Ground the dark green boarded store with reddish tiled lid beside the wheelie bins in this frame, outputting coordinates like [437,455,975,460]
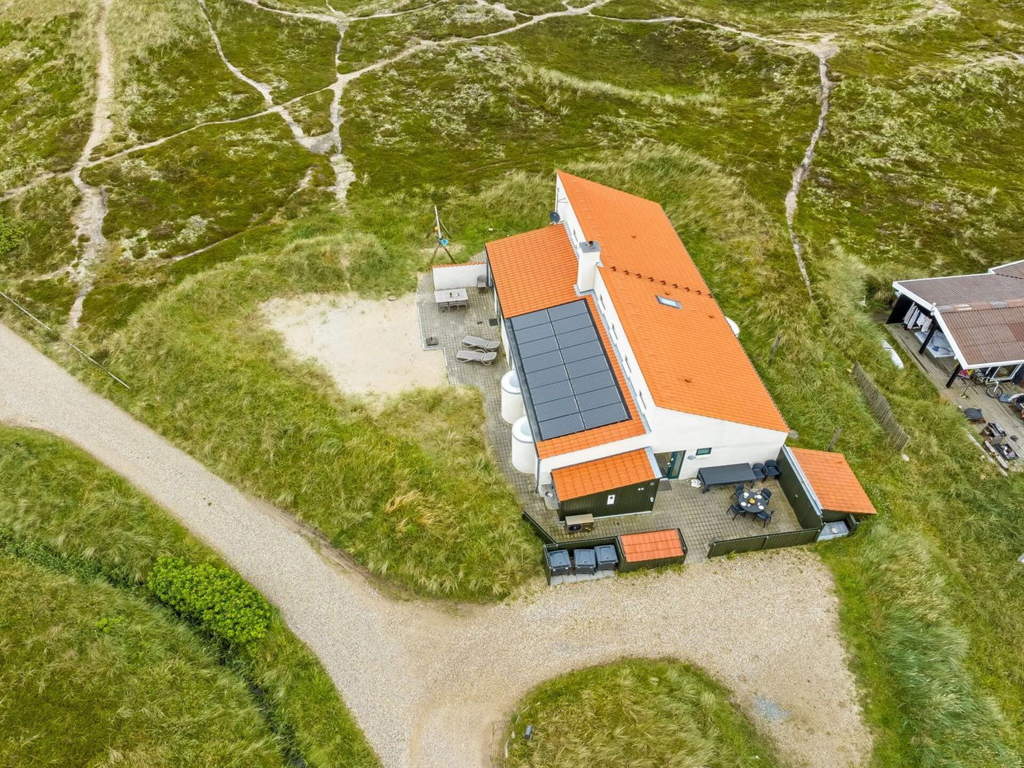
[614,526,693,573]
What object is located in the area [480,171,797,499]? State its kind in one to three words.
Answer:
house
